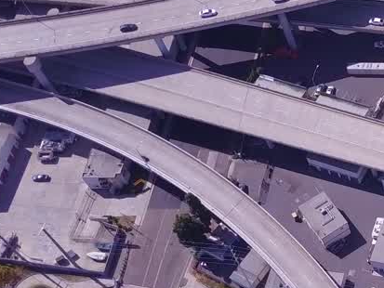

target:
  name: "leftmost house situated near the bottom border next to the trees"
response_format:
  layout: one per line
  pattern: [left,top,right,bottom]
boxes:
[200,239,249,282]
